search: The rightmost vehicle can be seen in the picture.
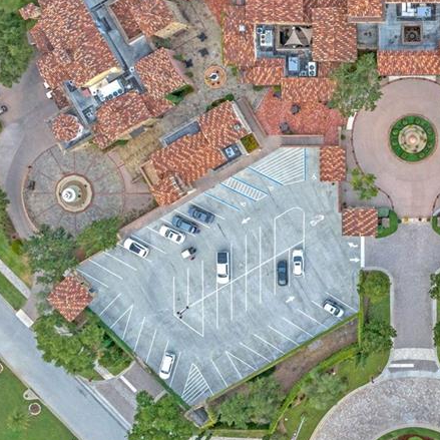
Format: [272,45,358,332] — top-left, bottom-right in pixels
[319,297,345,320]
